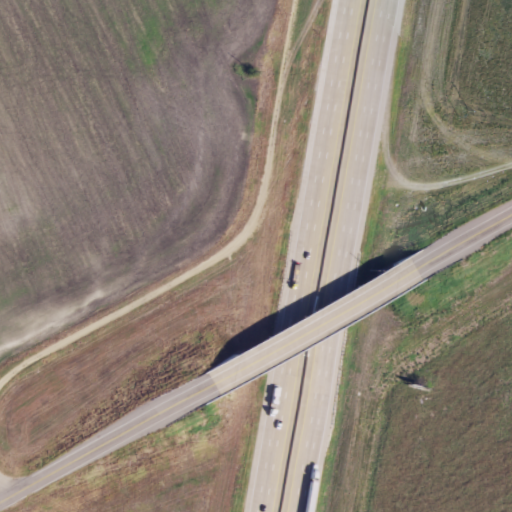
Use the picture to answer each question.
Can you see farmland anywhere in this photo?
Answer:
Yes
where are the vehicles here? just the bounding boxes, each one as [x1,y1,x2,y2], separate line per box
[275,420,281,430]
[304,250,310,261]
[291,262,303,290]
[306,463,320,510]
[268,386,283,418]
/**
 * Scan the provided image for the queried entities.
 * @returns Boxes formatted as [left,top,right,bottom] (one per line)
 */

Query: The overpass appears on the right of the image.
[204,250,429,406]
